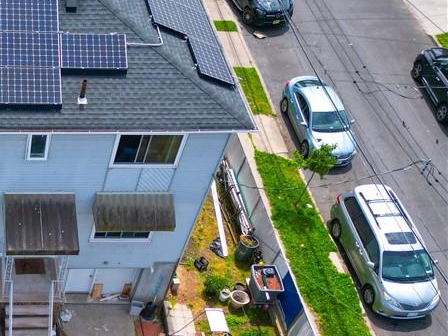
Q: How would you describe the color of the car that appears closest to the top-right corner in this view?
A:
black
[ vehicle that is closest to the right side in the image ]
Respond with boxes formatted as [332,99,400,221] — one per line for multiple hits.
[409,51,448,123]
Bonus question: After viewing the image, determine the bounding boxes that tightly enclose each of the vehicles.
[282,83,361,169]
[232,0,290,25]
[409,51,448,123]
[335,196,446,330]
